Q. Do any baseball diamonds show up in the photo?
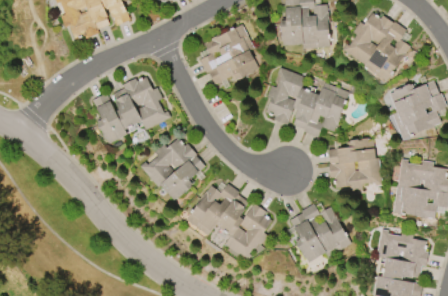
No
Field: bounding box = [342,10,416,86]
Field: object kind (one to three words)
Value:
house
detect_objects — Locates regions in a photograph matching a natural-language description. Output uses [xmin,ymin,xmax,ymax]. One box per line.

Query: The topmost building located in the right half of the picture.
[280,0,332,48]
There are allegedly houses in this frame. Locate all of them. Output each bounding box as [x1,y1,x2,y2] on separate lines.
[183,181,275,266]
[342,10,416,86]
[328,138,382,190]
[390,78,448,141]
[289,202,356,262]
[198,20,260,88]
[280,0,332,48]
[264,64,350,136]
[394,160,448,217]
[138,136,207,204]
[92,74,174,146]
[375,232,430,296]
[56,0,132,42]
